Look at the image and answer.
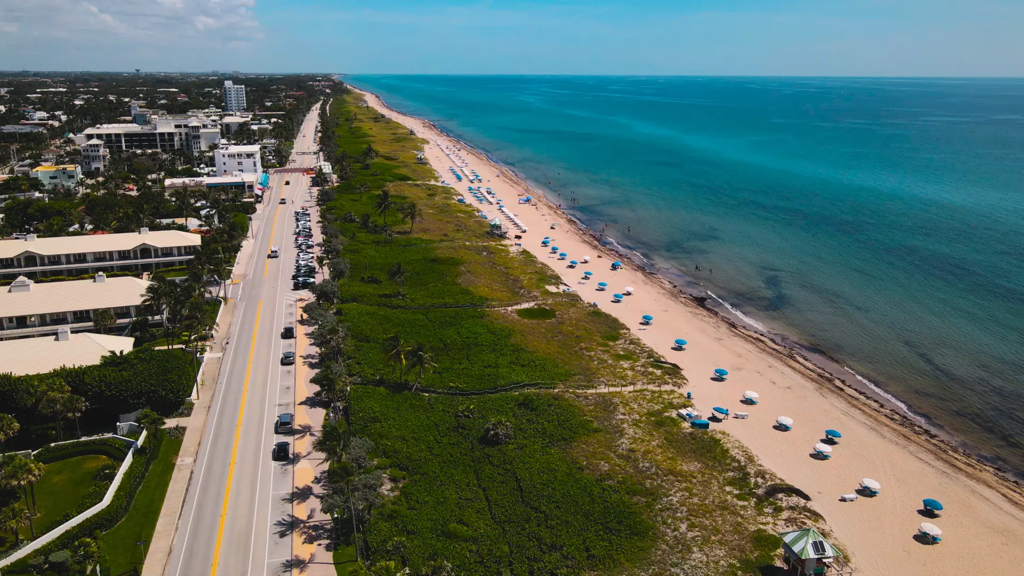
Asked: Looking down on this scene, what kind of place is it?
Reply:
beach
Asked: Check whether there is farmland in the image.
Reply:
No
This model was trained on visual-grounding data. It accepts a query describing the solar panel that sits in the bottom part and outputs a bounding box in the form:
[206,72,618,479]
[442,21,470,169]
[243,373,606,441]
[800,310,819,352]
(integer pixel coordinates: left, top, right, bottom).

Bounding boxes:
[806,533,826,554]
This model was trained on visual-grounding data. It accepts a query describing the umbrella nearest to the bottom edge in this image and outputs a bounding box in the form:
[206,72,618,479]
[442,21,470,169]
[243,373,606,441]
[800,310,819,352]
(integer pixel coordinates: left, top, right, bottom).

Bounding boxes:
[919,524,943,546]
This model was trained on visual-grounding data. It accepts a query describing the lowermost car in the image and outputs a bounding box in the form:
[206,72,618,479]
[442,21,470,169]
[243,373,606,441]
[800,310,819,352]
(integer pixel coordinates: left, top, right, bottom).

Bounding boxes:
[274,434,293,457]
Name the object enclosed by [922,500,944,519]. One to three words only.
umbrella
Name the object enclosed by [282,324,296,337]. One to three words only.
vehicle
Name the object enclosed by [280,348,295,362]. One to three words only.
car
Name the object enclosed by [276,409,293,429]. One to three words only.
car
